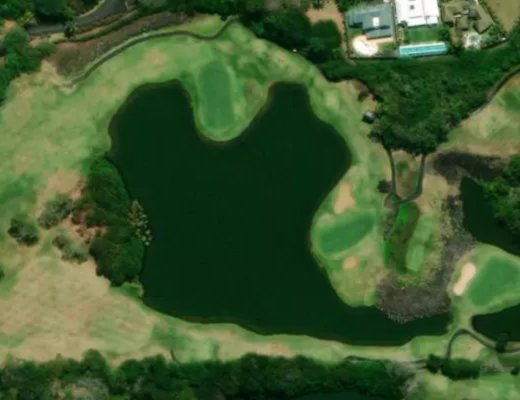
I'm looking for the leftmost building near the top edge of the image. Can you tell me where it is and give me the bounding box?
[348,5,393,38]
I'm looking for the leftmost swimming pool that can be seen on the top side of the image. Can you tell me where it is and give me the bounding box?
[399,44,445,57]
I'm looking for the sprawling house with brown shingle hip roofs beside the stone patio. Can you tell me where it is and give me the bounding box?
[440,0,496,33]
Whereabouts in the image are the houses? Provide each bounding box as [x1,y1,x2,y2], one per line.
[348,5,393,38]
[396,0,440,27]
[440,0,496,33]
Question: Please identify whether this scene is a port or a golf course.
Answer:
golf course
